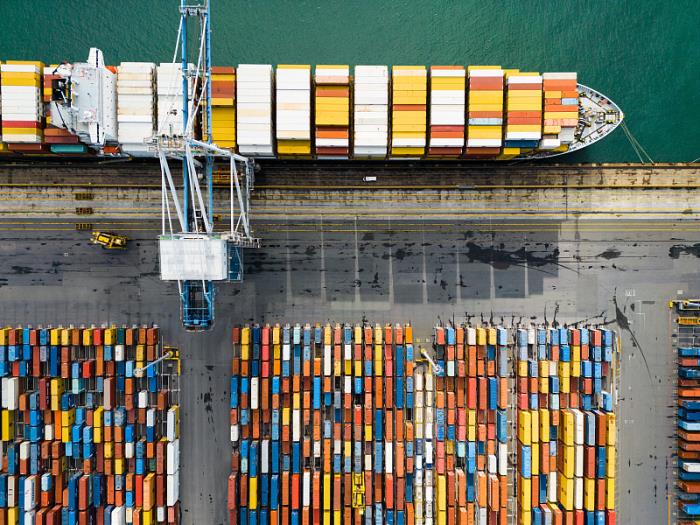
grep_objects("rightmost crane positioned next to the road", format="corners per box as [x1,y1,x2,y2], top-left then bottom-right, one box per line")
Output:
[145,0,267,329]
